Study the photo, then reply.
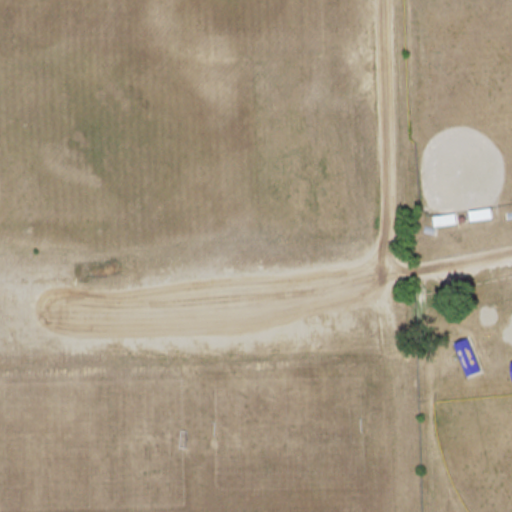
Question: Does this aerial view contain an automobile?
No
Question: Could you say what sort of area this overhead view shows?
sports ground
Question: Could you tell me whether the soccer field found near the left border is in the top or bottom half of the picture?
bottom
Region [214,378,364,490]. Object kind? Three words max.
soccer field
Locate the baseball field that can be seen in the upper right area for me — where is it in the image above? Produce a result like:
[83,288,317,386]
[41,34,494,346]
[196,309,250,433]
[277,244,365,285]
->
[406,0,512,213]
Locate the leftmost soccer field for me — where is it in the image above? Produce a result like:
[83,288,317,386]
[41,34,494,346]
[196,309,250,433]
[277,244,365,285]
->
[0,377,185,507]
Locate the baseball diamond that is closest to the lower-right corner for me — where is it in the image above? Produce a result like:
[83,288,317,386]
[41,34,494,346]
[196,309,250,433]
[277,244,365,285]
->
[437,395,512,512]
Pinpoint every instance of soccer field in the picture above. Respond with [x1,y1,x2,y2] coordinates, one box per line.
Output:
[214,378,364,490]
[0,377,185,507]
